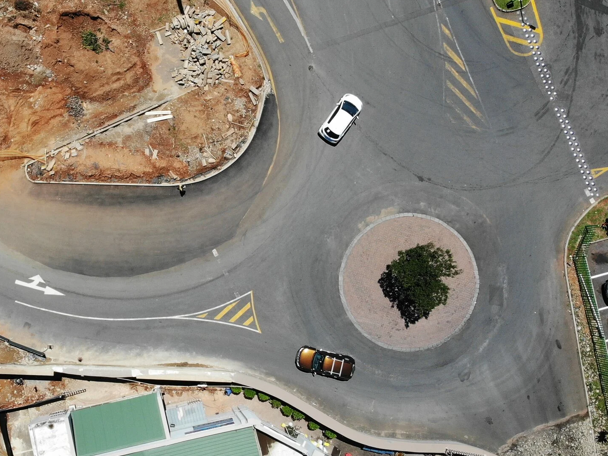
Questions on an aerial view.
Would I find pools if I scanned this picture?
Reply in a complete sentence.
No, no pool is visible in the view.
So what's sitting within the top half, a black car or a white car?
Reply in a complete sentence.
There is a white car within the top half.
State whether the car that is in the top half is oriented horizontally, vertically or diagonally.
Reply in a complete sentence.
In this picture, the car that is in the top half is oriented diagonally.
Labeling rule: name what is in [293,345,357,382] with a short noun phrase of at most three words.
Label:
car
